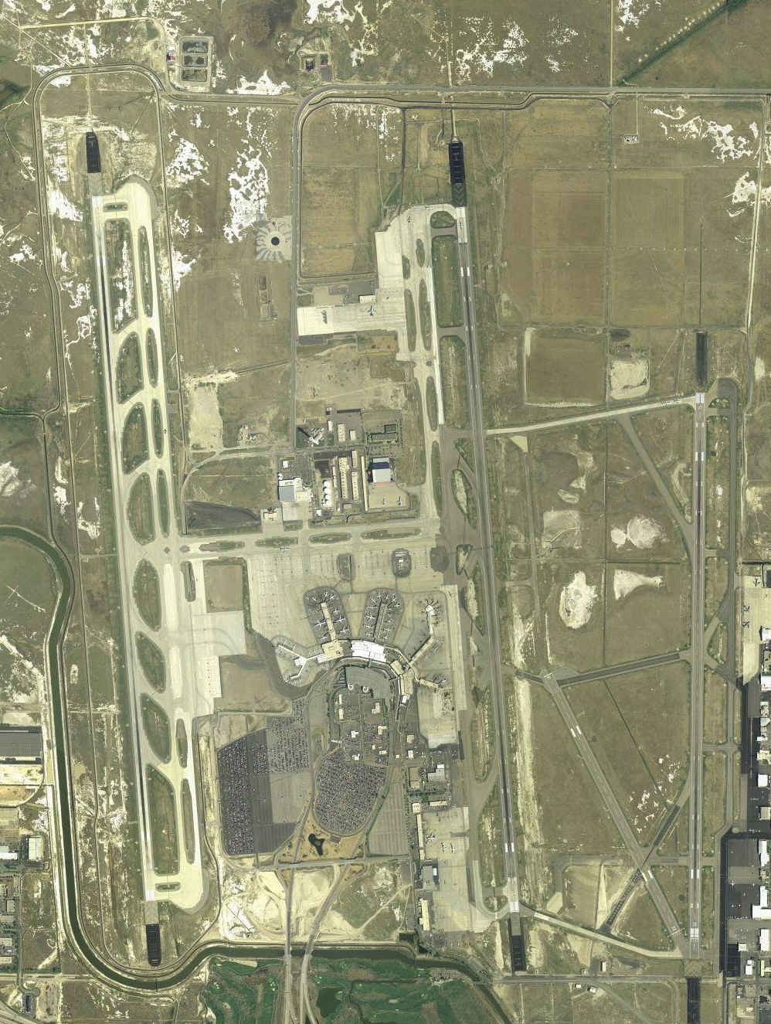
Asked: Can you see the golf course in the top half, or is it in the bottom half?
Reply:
bottom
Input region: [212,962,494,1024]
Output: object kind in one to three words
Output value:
golf course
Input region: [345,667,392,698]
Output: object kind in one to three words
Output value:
building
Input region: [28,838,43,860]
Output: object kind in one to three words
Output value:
building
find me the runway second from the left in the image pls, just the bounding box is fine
[449,143,525,971]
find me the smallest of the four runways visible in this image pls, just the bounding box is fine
[544,674,689,956]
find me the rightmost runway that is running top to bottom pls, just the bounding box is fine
[685,332,707,1024]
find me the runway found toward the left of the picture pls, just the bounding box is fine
[86,131,160,966]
